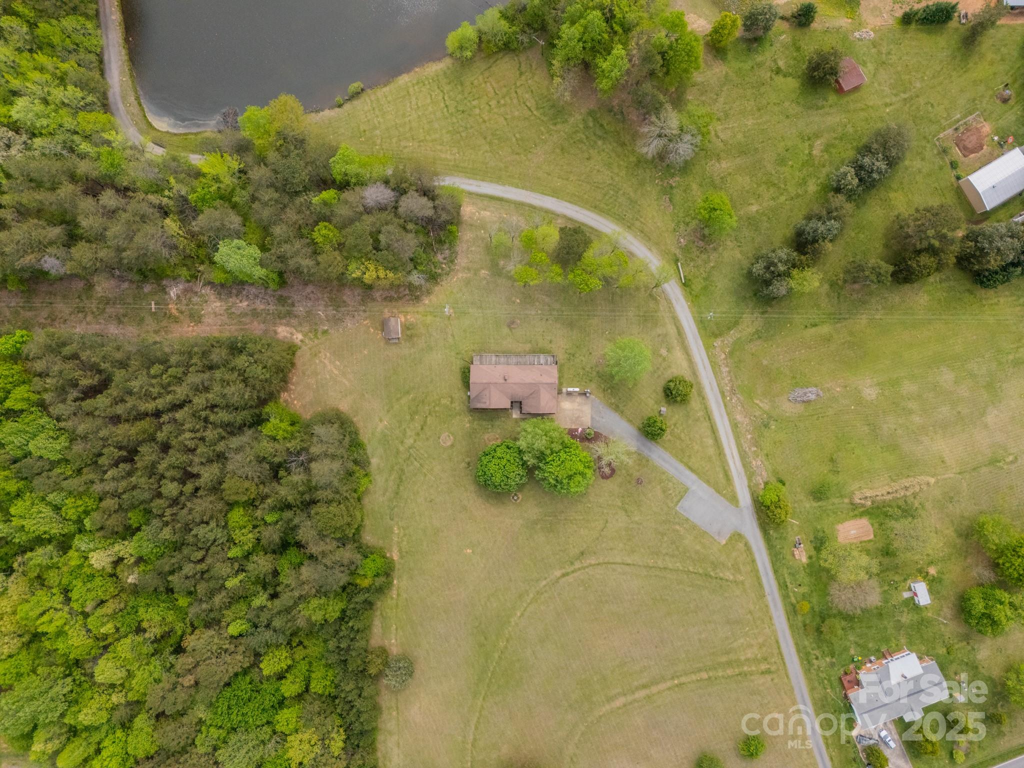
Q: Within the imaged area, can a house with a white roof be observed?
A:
Yes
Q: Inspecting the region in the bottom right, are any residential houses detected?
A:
Yes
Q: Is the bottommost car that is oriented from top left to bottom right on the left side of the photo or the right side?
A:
right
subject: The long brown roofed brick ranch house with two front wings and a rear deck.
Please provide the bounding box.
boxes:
[470,353,558,414]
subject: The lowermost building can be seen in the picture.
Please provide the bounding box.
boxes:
[834,641,949,730]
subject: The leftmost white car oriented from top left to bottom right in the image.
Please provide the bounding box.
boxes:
[879,728,901,753]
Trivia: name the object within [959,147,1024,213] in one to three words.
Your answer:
barn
